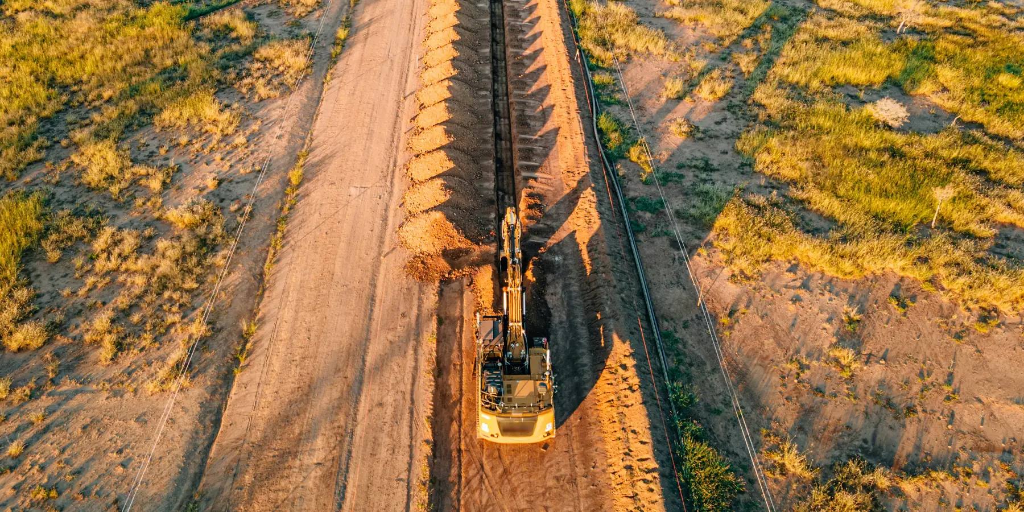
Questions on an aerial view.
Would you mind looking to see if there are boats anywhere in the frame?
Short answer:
No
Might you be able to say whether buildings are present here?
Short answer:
No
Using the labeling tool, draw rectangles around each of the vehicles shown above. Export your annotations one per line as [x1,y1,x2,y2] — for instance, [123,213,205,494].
[473,204,561,445]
